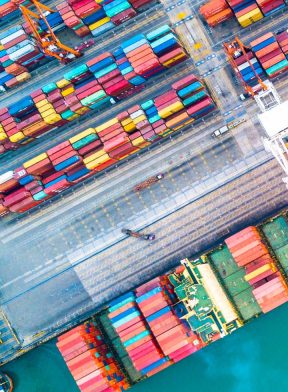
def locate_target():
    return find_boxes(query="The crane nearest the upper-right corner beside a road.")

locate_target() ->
[218,28,270,100]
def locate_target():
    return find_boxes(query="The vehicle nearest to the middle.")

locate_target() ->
[131,172,161,192]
